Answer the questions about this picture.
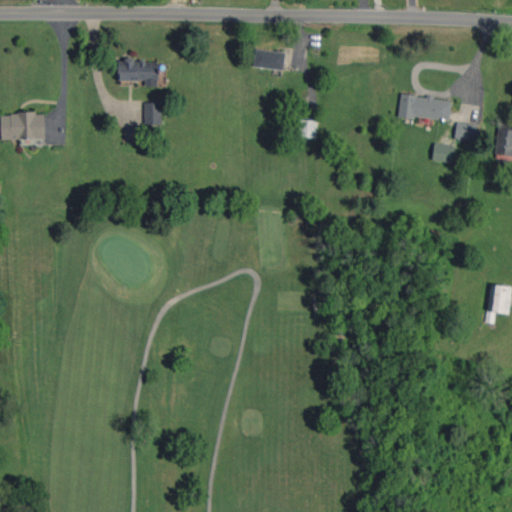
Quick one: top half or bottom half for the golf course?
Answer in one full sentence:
Seen from above, the golf course lies in the bottom half of the view.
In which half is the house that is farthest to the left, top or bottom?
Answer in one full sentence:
Seen from above, the house that is farthest to the left lies in the top half of the view.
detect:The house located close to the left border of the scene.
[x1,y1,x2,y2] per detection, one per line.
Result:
[1,113,45,140]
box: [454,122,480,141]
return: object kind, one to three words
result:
building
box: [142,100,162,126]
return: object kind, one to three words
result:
building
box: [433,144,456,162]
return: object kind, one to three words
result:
shed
